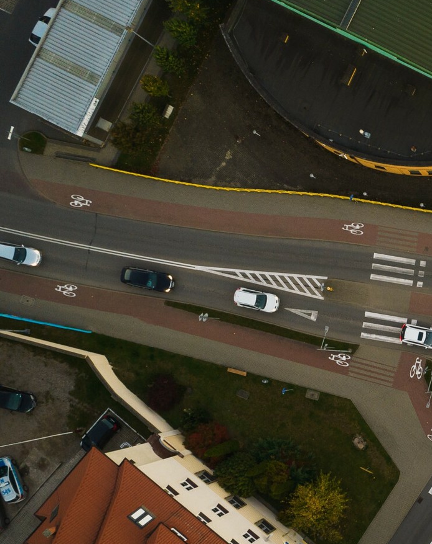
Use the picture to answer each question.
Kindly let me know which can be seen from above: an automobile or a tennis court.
automobile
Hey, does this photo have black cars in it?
Yes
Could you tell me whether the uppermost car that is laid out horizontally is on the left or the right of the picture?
left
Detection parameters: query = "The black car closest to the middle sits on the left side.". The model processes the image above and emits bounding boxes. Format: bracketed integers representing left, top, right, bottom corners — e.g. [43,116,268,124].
[121,268,177,293]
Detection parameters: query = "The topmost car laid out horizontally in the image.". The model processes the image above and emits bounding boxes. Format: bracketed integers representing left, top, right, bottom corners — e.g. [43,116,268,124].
[0,243,43,267]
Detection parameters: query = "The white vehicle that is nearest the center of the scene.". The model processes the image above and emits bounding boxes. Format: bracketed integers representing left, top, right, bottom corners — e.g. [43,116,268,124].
[232,289,282,312]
